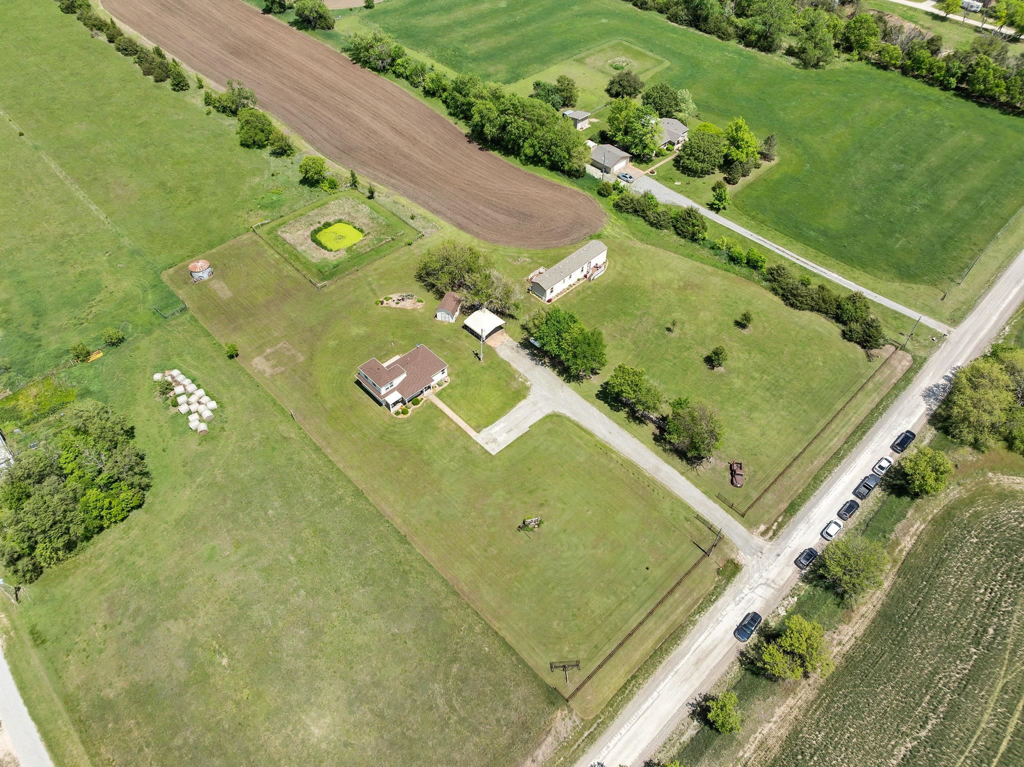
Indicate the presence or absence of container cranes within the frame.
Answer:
No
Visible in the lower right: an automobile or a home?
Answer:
automobile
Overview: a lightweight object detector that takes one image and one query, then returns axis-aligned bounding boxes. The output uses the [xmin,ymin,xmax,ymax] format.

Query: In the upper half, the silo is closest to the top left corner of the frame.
[189,262,212,281]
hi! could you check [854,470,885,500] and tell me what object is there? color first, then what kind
gray truck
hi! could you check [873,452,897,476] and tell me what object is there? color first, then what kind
white car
